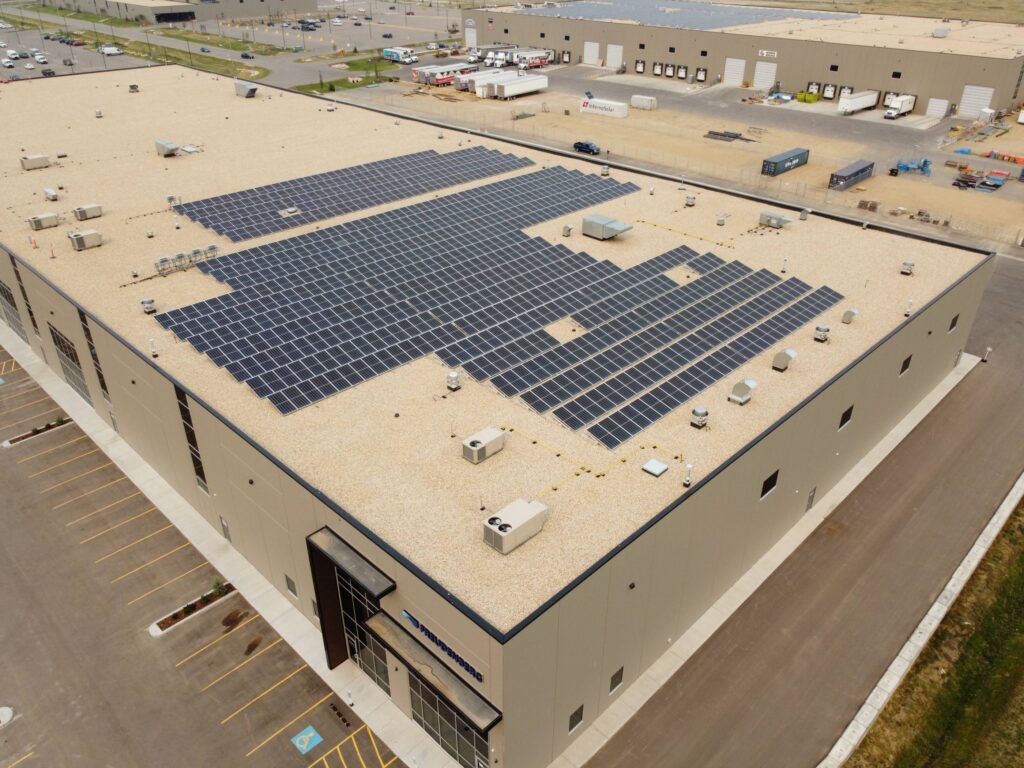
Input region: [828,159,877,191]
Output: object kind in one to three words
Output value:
shipping container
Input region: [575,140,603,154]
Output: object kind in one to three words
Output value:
vehicle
